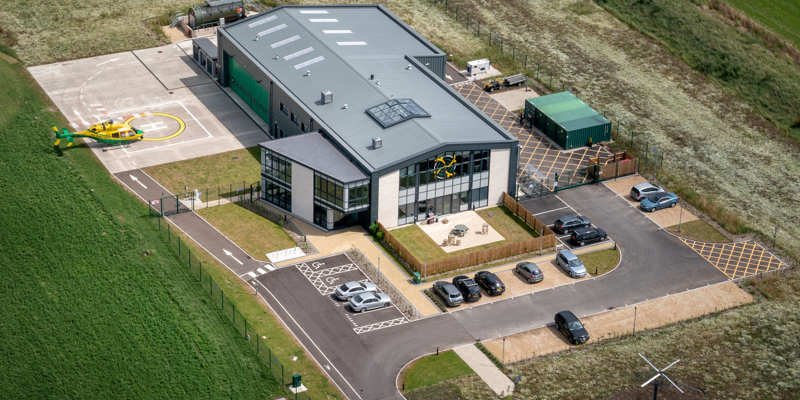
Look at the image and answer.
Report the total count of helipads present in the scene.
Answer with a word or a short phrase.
1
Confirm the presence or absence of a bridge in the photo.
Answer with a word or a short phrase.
No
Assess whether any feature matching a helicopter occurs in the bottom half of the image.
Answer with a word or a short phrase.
No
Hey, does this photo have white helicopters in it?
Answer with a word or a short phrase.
No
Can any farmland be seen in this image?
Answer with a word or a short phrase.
Yes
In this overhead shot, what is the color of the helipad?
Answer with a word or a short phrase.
white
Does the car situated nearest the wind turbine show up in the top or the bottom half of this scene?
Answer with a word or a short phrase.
bottom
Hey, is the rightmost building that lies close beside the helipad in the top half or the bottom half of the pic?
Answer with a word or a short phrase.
top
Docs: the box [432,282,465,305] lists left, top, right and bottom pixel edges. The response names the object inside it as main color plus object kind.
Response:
gray car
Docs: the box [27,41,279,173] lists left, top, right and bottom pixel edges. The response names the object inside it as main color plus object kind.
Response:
white helipad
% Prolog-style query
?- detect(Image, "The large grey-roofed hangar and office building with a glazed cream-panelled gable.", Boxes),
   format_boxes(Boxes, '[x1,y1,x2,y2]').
[216,4,521,231]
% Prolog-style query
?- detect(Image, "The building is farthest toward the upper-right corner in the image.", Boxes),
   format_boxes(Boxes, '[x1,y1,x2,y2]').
[586,148,643,179]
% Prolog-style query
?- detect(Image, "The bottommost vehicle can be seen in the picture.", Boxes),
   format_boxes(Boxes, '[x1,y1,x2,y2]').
[554,309,592,345]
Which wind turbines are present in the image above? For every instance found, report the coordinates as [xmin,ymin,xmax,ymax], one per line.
[639,353,680,400]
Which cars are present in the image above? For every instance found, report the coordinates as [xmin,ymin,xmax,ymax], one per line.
[474,272,508,295]
[554,309,592,345]
[452,277,485,299]
[623,181,661,200]
[432,282,465,305]
[639,191,678,210]
[514,261,546,284]
[334,278,379,300]
[553,247,588,276]
[563,222,607,245]
[550,213,593,234]
[347,289,394,311]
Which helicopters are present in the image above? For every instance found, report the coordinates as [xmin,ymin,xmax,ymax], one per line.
[48,108,153,151]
